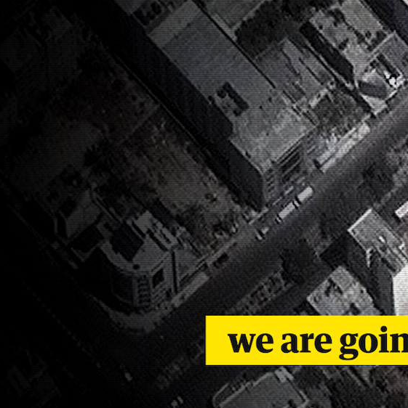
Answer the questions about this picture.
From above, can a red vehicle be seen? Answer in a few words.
No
